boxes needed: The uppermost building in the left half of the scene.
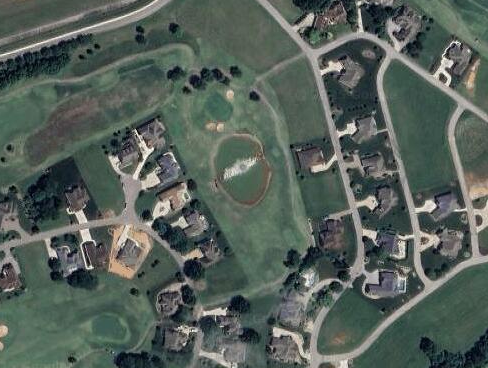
[134,117,168,150]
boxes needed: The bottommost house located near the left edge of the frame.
[0,264,20,292]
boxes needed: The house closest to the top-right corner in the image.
[446,41,474,72]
